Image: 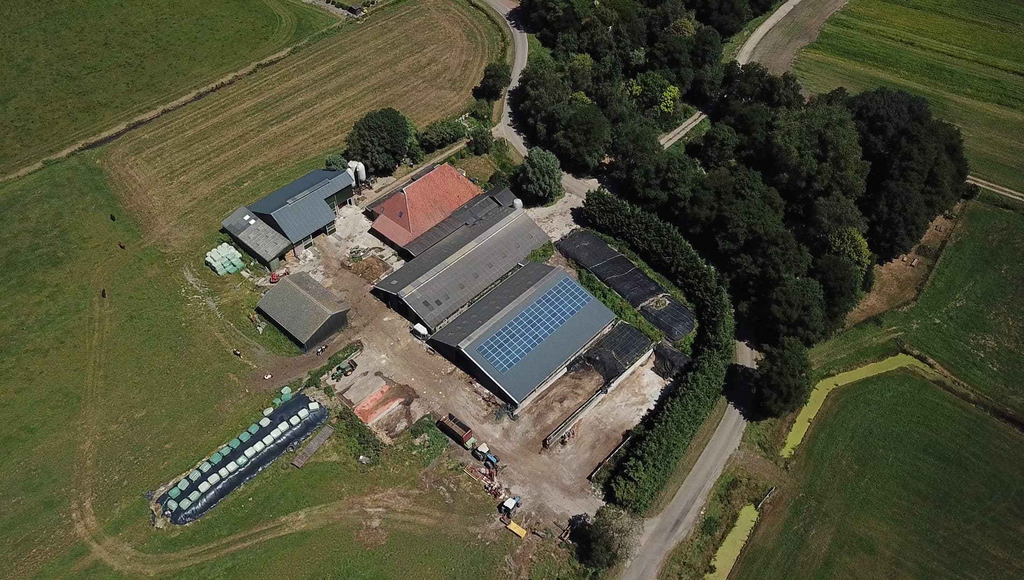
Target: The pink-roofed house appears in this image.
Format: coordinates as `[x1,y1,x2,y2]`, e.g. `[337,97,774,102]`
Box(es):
[365,161,483,254]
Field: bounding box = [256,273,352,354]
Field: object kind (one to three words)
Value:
shed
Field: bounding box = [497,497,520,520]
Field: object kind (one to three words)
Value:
work vehicle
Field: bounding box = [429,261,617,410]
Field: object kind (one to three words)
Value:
barn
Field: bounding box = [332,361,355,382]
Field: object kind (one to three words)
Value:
work vehicle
